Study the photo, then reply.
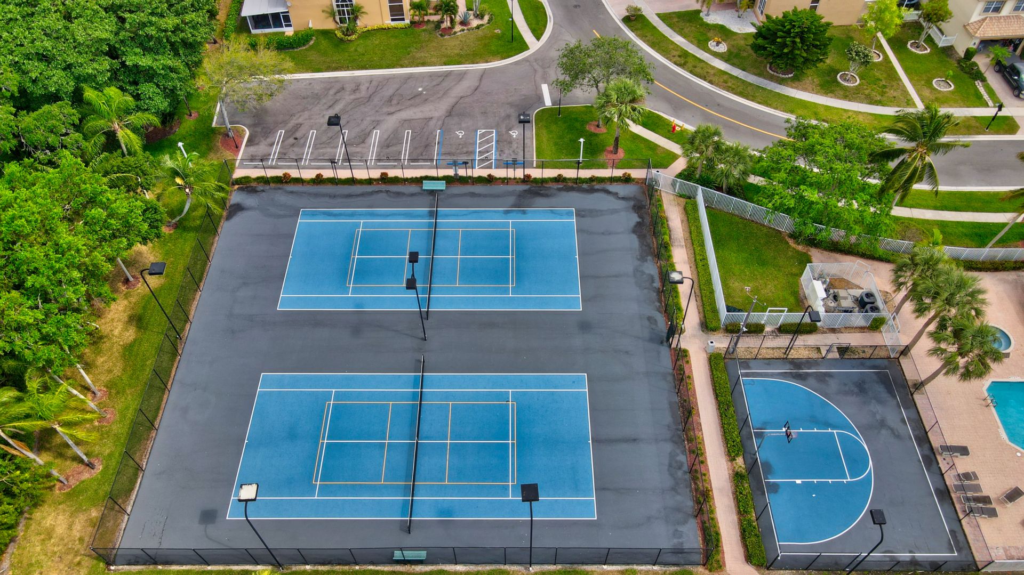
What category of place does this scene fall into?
sports ground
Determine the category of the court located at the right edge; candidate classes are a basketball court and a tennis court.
basketball court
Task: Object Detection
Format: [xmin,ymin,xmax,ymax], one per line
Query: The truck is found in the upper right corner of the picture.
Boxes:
[997,60,1024,99]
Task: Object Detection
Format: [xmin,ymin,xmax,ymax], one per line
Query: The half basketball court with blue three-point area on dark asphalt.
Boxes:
[727,358,974,570]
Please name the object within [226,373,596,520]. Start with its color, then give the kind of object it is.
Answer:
blue tennis court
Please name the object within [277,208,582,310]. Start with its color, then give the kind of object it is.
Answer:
blue tennis court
